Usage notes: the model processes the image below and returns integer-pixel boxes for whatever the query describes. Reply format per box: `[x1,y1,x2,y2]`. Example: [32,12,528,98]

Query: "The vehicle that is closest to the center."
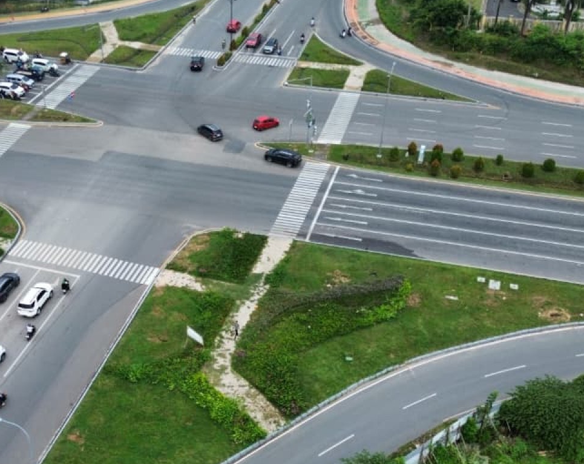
[264,149,303,169]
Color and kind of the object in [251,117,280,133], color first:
red car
